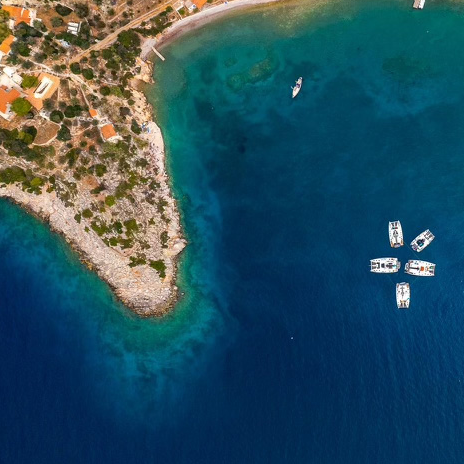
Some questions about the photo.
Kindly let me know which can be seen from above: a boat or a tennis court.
boat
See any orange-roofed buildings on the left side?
Yes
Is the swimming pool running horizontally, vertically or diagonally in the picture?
diagonally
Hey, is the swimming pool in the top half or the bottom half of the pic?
top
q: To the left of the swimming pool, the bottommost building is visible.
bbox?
[0,85,26,119]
